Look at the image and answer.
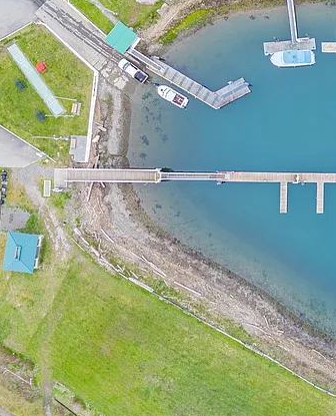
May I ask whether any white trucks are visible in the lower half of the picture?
No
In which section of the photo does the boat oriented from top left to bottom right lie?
top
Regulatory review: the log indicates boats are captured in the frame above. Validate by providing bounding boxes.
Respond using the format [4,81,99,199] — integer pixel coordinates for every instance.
[270,47,316,69]
[158,87,189,109]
